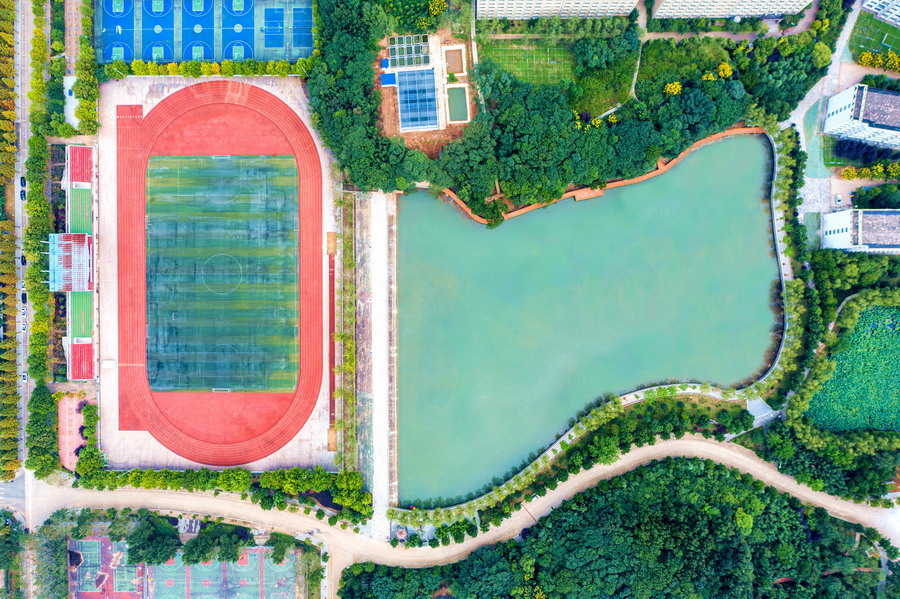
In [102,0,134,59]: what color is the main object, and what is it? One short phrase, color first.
blue basketball court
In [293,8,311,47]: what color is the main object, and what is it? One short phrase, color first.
blue sports court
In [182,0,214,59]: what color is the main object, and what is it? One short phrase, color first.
blue basketball court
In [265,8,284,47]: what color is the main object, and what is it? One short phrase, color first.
blue sports court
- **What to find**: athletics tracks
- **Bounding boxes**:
[112,81,322,466]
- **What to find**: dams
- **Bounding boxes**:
[356,192,395,541]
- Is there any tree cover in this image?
Yes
